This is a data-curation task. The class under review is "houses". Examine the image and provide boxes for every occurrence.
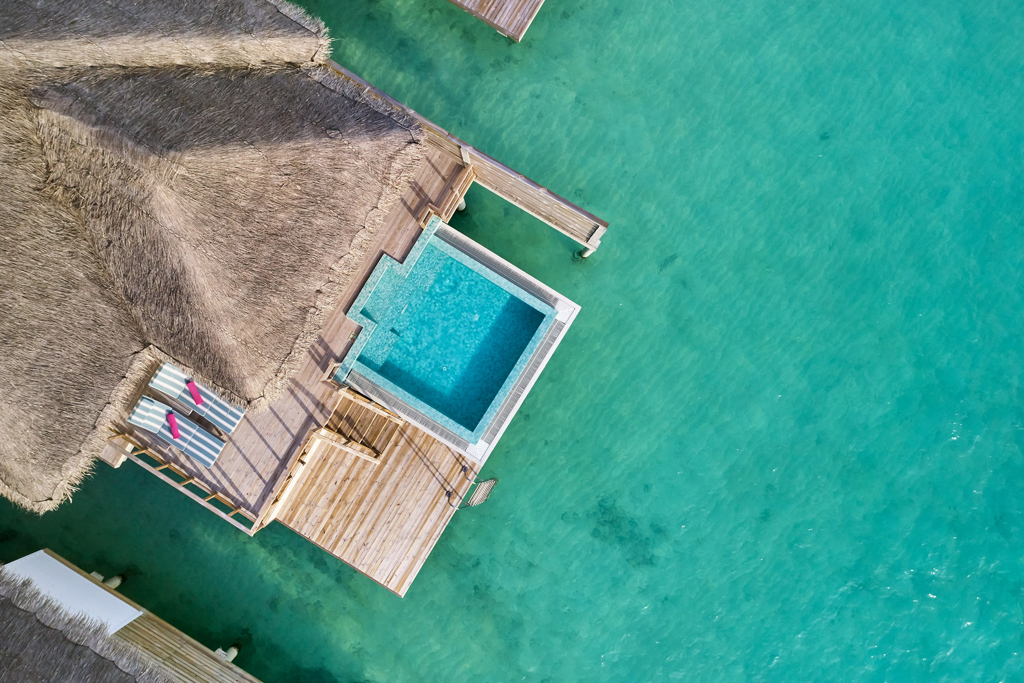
[0,0,439,514]
[0,543,277,683]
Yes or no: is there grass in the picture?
No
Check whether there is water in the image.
Yes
